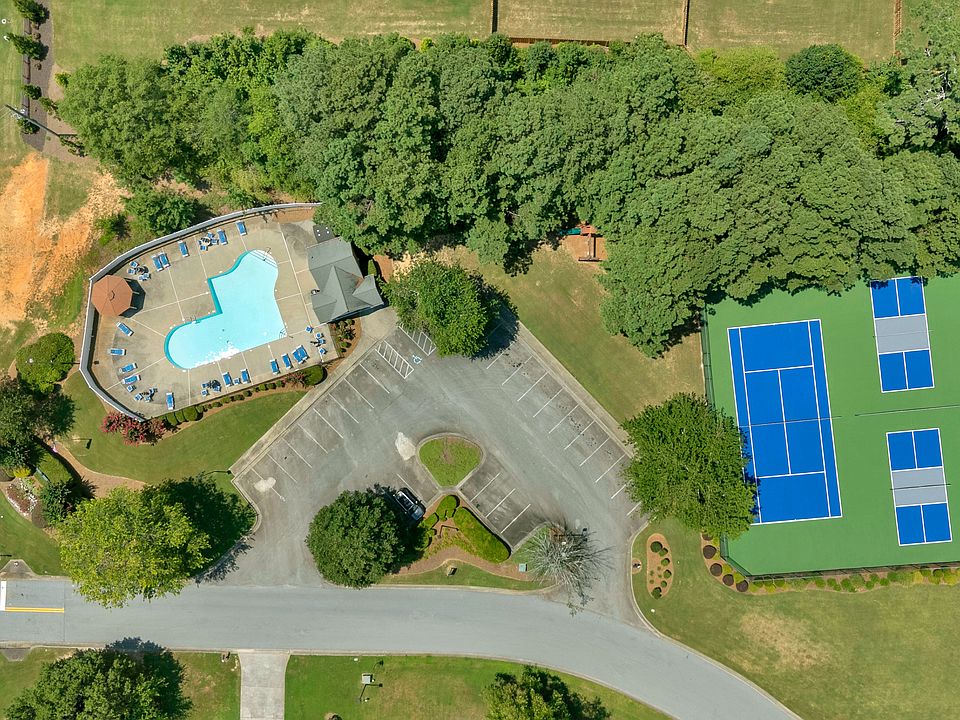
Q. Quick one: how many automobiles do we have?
one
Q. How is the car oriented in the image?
on a diagonal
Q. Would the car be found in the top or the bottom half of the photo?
bottom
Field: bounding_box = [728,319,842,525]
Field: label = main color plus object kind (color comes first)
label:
blue tennis court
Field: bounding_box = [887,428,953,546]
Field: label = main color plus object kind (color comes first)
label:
blue sports court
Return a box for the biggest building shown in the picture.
[308,236,387,327]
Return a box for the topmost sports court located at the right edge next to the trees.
[871,276,937,393]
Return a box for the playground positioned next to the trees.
[564,218,603,261]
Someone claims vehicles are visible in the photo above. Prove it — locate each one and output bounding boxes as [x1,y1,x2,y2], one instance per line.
[392,488,426,523]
